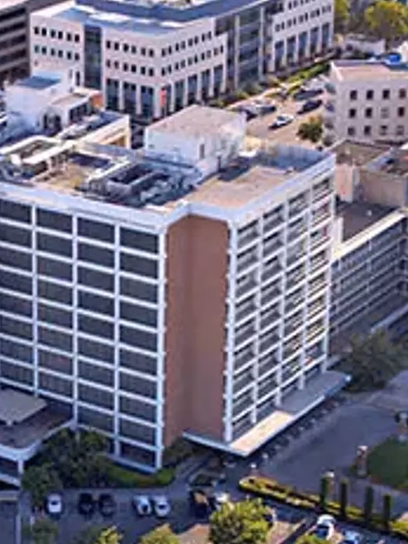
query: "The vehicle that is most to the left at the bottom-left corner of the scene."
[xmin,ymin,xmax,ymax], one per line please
[46,492,61,511]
